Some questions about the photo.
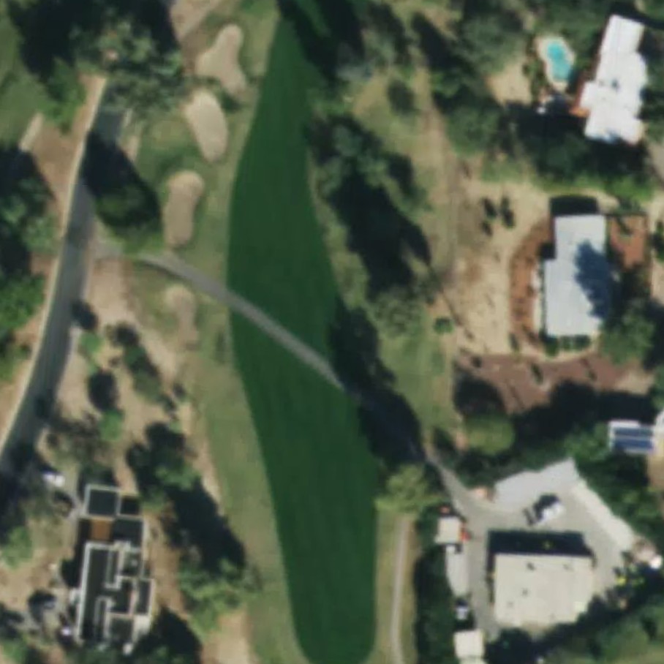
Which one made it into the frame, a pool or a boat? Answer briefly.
pool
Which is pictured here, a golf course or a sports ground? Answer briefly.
golf course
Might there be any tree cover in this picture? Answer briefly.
Yes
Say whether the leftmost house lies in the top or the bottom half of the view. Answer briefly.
bottom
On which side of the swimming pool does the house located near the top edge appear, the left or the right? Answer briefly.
to the right of it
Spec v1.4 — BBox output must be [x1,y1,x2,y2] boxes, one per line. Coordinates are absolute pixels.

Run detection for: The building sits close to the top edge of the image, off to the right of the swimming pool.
[569,16,648,144]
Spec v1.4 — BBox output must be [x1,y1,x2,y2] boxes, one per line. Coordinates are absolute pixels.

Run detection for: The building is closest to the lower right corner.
[495,558,594,627]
